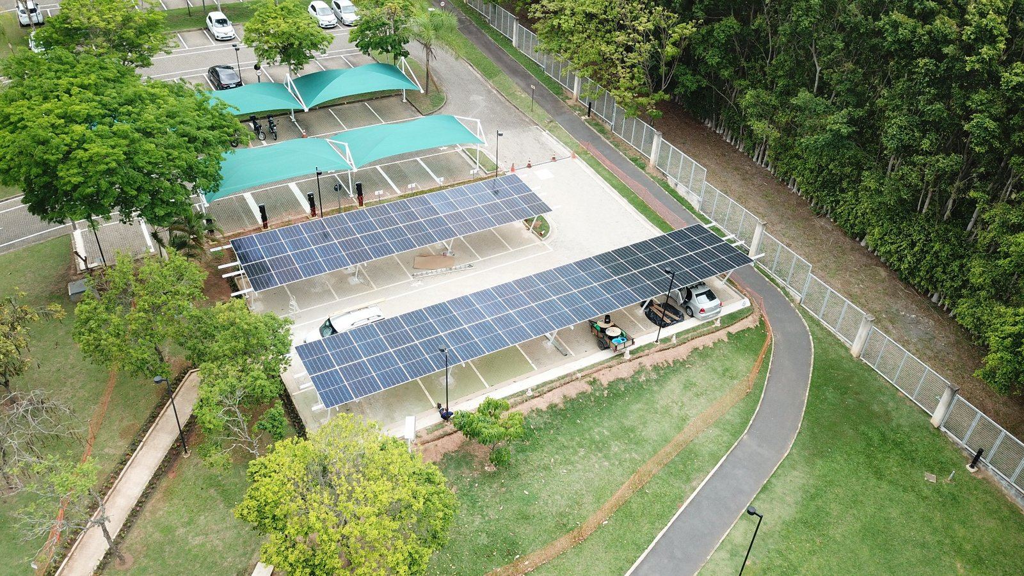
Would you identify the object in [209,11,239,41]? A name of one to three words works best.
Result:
car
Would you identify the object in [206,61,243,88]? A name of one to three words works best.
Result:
car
